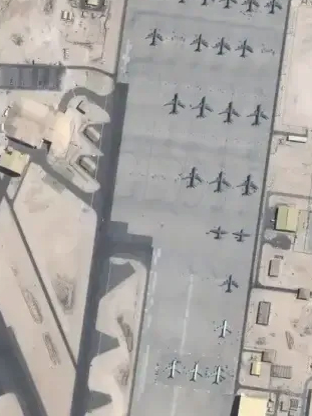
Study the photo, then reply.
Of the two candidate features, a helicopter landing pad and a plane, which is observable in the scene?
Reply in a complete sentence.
Looking from above, you can make out a plane.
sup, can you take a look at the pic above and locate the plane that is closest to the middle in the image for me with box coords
[182,167,202,189]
